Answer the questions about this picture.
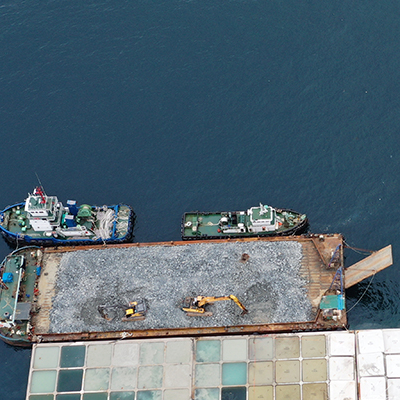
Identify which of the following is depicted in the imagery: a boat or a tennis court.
boat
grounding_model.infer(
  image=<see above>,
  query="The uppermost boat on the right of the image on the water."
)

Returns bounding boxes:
[180,202,309,240]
